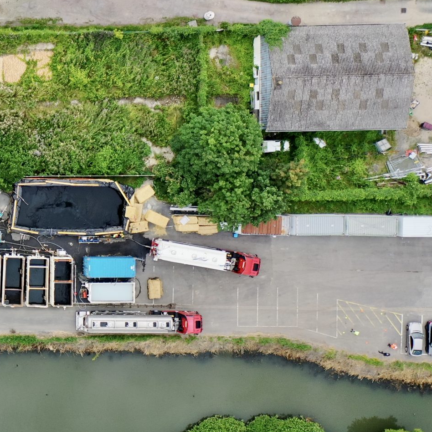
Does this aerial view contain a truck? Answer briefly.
Yes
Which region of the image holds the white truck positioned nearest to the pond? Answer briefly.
center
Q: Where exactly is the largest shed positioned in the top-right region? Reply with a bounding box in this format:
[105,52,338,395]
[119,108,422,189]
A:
[252,24,415,131]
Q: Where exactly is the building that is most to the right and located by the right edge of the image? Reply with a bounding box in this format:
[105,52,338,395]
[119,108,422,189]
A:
[398,215,432,237]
